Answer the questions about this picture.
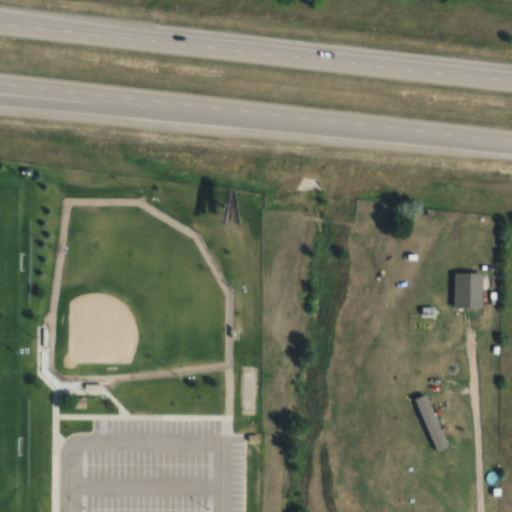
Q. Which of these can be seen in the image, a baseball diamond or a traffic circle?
baseball diamond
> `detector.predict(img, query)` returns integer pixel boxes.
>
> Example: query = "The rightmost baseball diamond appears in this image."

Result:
[44,197,234,384]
